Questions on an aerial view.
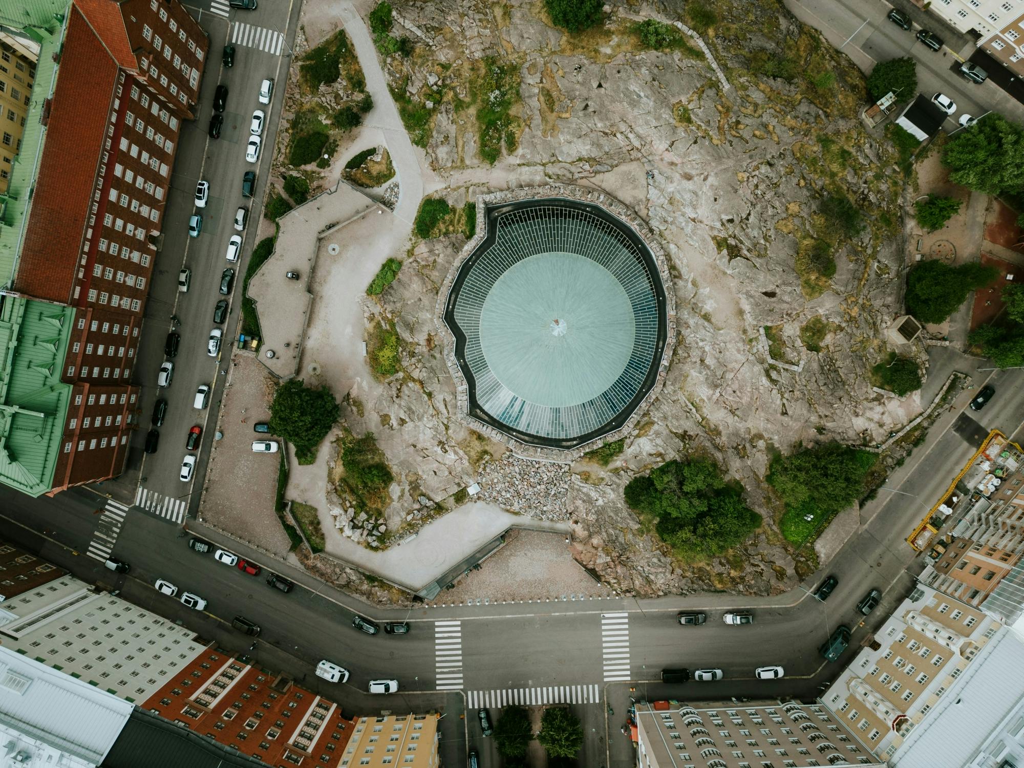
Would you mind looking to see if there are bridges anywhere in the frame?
No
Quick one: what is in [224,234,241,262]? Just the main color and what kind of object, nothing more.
white car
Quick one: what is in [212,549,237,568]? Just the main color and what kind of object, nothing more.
white car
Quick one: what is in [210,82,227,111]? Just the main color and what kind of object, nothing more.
black car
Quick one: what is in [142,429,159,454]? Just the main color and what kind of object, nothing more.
black car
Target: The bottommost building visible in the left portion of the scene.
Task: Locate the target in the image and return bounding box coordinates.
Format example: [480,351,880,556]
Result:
[338,713,439,768]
